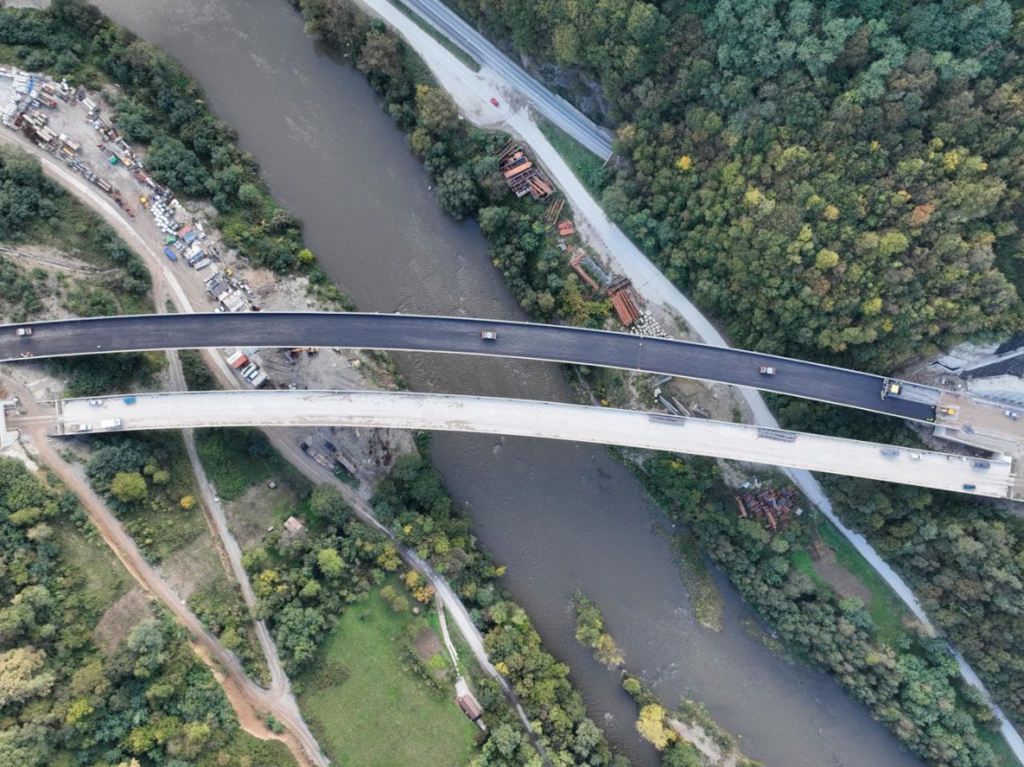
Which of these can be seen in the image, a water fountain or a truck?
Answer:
truck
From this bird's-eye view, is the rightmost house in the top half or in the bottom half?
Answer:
bottom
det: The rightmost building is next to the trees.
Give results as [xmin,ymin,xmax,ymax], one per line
[456,692,485,723]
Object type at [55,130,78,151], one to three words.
truck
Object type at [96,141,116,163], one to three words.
vehicle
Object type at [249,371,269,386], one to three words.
vehicle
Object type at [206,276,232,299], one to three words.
shed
